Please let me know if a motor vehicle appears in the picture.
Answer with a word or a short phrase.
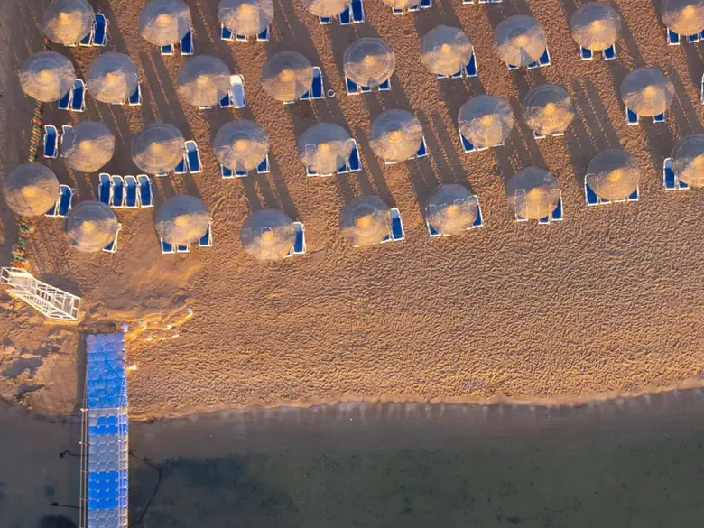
No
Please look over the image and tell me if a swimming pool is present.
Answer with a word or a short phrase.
No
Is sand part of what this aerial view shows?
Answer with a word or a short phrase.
Yes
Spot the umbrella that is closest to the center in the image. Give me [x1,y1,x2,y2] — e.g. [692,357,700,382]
[338,196,394,248]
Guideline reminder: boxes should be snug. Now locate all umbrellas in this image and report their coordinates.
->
[342,37,397,87]
[212,120,269,173]
[139,0,193,46]
[492,16,548,67]
[176,55,232,106]
[570,3,623,50]
[86,53,140,102]
[61,122,116,173]
[18,52,76,103]
[155,193,210,245]
[297,123,354,177]
[239,208,296,261]
[259,53,314,102]
[301,0,351,17]
[65,200,121,254]
[457,95,514,148]
[505,167,561,219]
[338,196,394,248]
[131,123,186,175]
[425,185,479,236]
[521,86,574,134]
[587,150,641,201]
[369,111,424,161]
[660,0,704,35]
[669,134,704,185]
[42,0,97,43]
[621,68,676,118]
[217,0,273,36]
[2,162,60,217]
[419,26,473,76]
